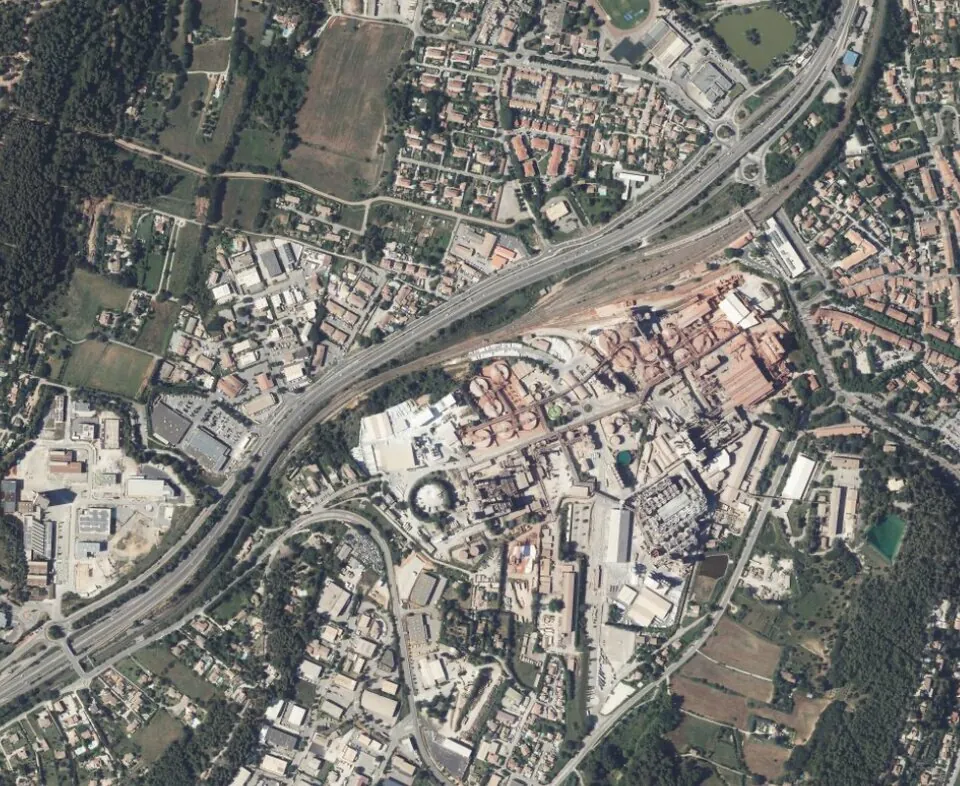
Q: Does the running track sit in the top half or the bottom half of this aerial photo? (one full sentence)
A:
The top half of the photo is where the running track is.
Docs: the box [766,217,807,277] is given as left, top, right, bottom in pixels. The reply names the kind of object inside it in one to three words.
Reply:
building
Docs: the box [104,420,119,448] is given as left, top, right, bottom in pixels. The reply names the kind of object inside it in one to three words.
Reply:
building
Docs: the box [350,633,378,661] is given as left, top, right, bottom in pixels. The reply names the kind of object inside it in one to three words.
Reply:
shed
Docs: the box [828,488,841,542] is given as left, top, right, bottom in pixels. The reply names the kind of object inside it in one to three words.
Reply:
shed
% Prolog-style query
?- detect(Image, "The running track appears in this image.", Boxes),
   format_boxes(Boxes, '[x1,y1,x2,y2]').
[594,0,660,37]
